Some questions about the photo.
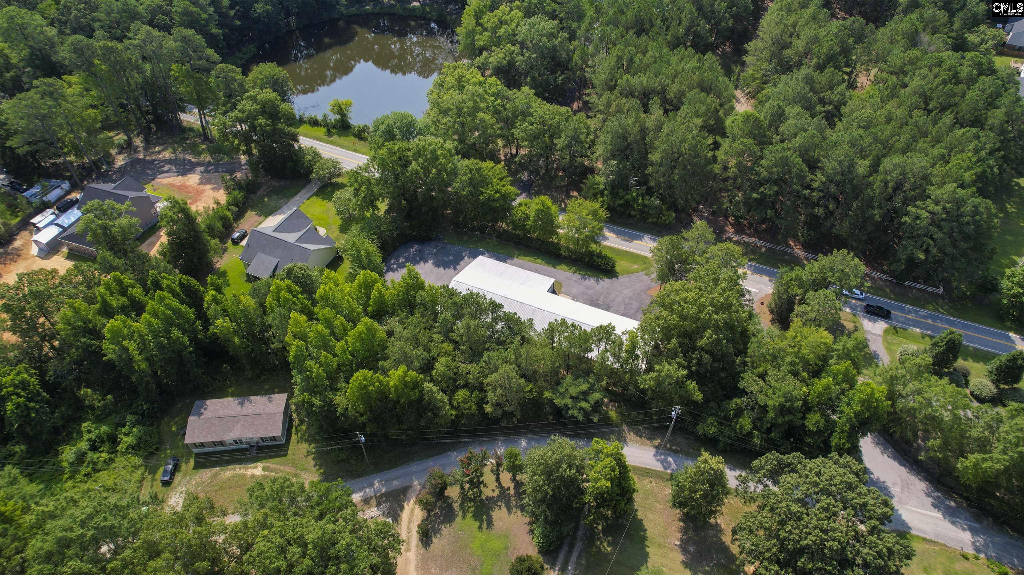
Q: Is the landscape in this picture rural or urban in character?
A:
rural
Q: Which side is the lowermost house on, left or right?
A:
left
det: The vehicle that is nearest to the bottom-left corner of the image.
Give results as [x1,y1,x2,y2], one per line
[161,459,178,485]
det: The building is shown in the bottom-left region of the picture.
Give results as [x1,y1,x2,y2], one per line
[181,395,295,454]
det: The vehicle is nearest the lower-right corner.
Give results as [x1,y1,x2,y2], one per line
[862,303,893,320]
